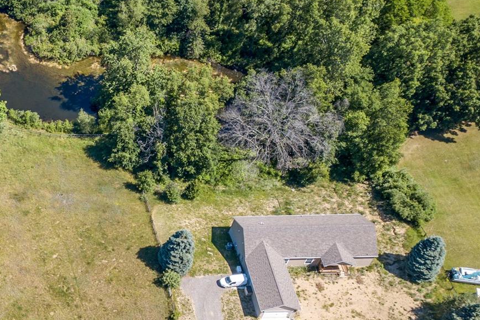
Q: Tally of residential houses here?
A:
one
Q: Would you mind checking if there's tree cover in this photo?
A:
Yes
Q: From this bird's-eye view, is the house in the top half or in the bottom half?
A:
bottom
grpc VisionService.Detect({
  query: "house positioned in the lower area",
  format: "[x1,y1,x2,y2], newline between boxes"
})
[231,214,378,317]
